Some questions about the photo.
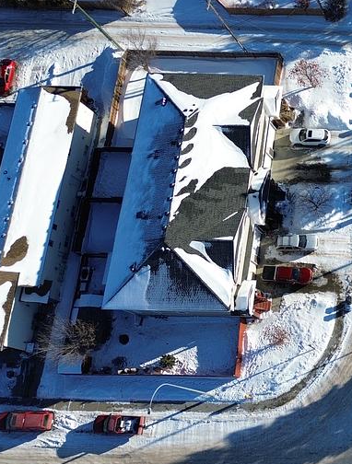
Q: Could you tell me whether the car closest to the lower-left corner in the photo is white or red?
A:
red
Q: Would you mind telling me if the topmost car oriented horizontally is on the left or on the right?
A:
right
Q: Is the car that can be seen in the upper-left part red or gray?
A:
red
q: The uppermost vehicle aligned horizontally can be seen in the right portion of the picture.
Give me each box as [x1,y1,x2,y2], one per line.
[290,129,332,149]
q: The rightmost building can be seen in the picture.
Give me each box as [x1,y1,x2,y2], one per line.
[105,74,289,317]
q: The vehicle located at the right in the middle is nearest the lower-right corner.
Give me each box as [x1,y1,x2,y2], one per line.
[260,264,315,286]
